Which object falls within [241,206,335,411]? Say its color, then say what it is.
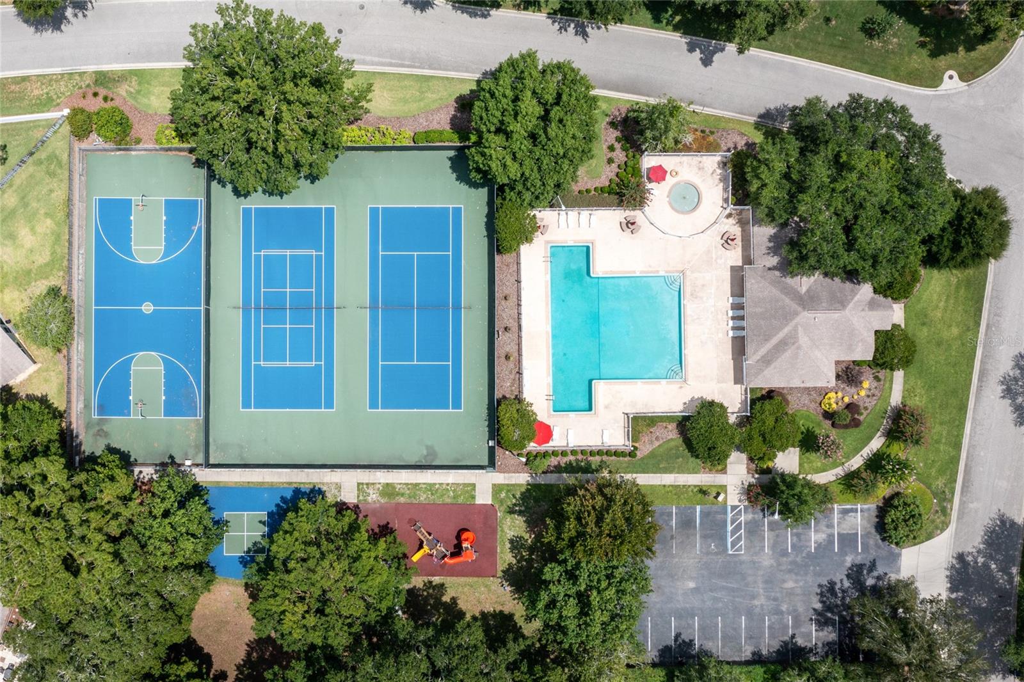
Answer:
blue tennis court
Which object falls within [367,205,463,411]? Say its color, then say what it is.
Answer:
blue tennis court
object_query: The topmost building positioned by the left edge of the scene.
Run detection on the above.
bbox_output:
[0,314,44,392]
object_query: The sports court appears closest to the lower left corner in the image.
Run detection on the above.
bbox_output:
[198,486,325,580]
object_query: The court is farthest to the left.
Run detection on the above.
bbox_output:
[84,151,204,465]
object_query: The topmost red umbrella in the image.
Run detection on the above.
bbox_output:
[649,164,667,183]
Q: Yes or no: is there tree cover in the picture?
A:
Yes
